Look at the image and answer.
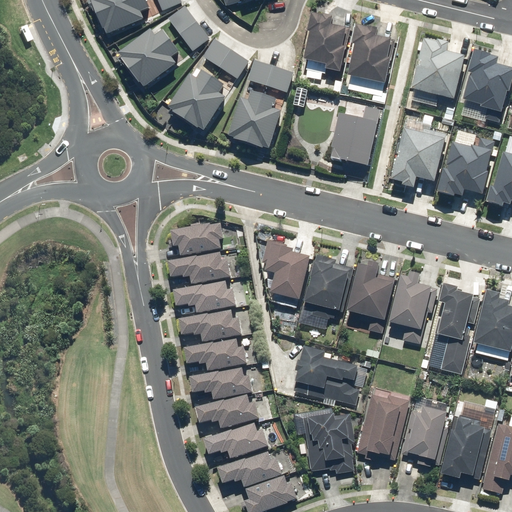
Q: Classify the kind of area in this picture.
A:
residential area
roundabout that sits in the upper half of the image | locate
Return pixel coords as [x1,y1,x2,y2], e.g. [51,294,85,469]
[98,148,131,182]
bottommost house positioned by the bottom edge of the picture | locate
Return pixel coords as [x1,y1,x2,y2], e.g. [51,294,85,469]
[248,474,306,512]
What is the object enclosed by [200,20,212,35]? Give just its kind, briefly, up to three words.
vehicle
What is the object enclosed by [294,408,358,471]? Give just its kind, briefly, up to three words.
house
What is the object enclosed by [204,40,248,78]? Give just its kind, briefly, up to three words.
building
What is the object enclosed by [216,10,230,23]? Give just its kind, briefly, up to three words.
vehicle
